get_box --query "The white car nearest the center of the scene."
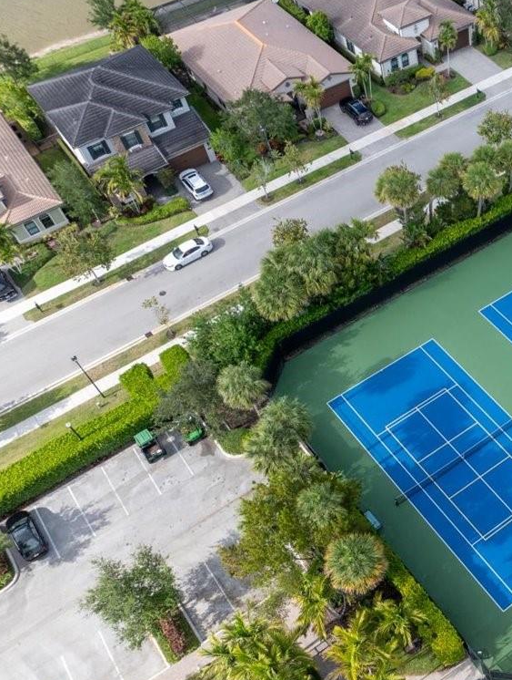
[162,231,213,264]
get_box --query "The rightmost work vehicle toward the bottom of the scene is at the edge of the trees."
[170,420,204,450]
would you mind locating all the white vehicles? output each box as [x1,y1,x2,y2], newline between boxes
[162,231,213,264]
[176,170,207,199]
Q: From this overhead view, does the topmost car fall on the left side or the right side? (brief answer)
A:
right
